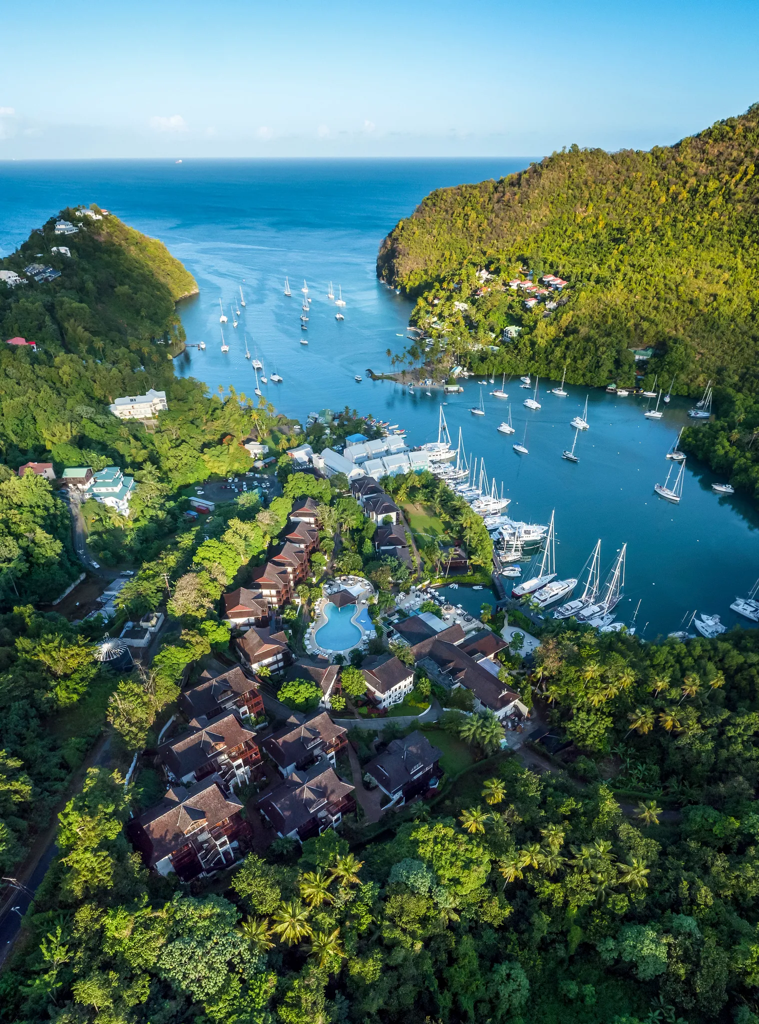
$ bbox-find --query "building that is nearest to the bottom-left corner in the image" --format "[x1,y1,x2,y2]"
[128,769,259,877]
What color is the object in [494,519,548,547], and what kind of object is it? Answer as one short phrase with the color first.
white boat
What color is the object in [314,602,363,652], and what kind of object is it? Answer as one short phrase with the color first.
blue swimming pool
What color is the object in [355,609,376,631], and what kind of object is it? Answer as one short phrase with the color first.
blue swimming pool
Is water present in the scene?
Yes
